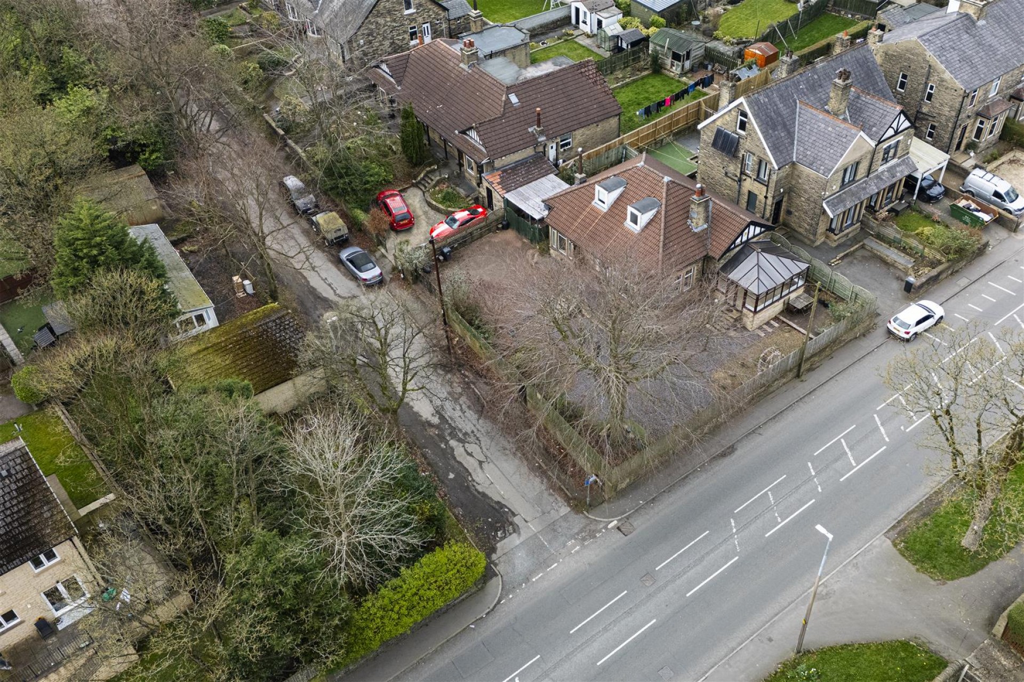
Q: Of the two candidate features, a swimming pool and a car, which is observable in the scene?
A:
car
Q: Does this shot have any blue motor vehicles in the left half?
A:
No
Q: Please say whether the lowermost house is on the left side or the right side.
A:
left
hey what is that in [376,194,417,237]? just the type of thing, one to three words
car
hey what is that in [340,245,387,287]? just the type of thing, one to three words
car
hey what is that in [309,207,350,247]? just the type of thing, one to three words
vehicle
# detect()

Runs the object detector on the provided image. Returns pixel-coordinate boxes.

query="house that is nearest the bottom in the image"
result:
[0,409,98,637]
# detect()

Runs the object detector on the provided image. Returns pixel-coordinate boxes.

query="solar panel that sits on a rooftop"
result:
[712,127,735,159]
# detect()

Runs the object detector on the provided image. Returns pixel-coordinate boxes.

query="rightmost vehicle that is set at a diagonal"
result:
[965,164,1024,215]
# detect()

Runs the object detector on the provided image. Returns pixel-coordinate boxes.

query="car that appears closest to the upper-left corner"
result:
[277,176,319,212]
